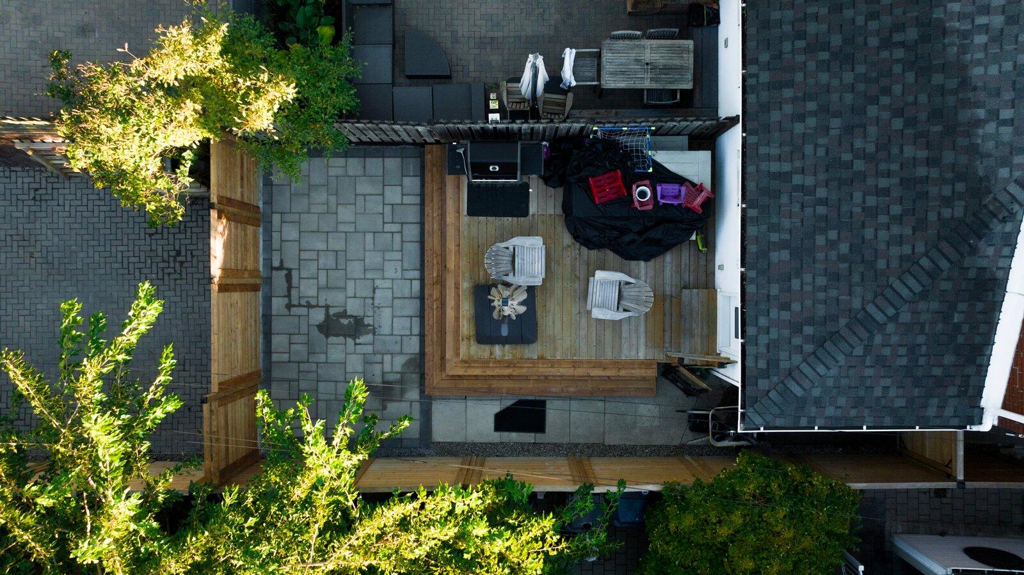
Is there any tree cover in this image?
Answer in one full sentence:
Yes, there is tree cover in the image.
